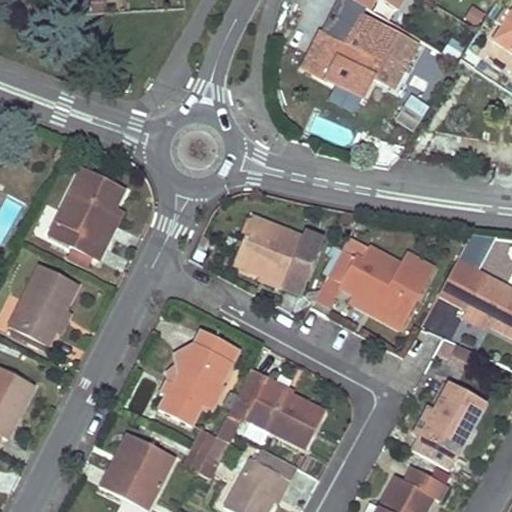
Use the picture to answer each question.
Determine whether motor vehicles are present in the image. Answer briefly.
Yes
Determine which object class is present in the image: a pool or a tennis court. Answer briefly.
pool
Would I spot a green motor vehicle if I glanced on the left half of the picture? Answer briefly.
No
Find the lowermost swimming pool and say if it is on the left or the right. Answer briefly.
left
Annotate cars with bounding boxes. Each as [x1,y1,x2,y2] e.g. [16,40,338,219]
[408,338,424,357]
[300,311,316,334]
[218,108,230,131]
[332,329,348,352]
[190,268,210,283]
[56,341,75,356]
[259,353,276,374]
[290,30,304,48]
[86,412,104,436]
[179,92,199,114]
[218,154,235,178]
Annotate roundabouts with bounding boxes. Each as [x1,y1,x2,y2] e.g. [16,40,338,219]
[129,80,266,246]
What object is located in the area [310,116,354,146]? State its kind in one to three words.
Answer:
swimming pool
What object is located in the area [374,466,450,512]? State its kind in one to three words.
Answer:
house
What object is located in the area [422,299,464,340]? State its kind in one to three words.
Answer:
building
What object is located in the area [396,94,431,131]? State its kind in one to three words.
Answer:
greenhouse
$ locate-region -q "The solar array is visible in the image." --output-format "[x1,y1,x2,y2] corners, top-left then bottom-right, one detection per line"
[455,405,482,446]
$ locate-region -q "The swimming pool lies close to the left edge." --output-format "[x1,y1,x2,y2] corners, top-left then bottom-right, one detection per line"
[0,197,24,248]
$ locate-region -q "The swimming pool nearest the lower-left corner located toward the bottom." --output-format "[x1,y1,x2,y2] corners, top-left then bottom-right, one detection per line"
[126,374,160,414]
